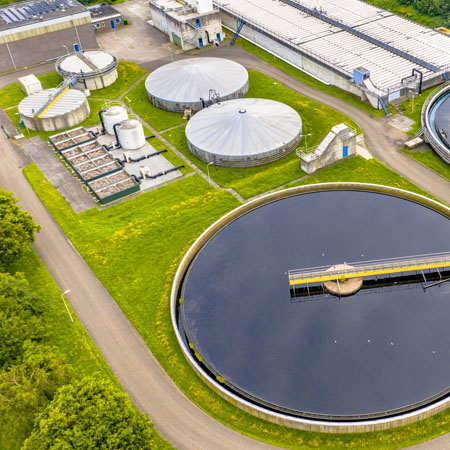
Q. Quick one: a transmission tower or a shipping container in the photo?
shipping container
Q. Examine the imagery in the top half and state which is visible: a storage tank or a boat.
storage tank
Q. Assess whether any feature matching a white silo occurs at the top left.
Yes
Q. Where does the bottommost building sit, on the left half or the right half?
right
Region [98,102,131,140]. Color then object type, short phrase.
white silo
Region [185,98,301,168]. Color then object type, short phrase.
white storage tank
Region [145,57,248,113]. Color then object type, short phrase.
white storage tank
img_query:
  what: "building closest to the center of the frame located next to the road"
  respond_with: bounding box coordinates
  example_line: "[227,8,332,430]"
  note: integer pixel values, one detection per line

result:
[301,125,357,173]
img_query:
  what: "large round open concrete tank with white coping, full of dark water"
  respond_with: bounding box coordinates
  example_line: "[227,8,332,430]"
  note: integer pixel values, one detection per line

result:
[171,182,450,432]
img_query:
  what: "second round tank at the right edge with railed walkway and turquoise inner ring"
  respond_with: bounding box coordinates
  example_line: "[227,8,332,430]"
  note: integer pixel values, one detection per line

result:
[420,75,450,178]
